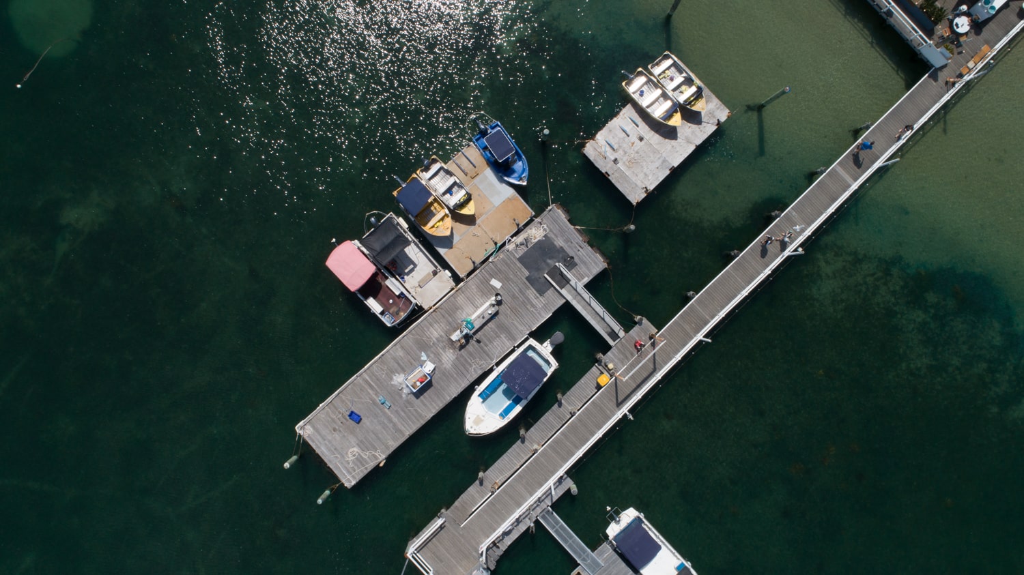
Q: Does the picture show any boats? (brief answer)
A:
Yes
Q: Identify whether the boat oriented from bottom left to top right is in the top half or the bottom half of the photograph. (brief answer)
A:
bottom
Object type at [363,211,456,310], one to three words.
vessel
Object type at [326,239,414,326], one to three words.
boat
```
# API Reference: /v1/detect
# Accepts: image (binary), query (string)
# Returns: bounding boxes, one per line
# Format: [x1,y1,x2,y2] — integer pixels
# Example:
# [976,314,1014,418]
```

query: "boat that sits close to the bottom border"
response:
[602,502,697,575]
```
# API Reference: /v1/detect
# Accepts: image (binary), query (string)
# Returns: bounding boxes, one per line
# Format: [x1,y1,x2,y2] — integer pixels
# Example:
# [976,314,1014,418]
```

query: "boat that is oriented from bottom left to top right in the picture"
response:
[462,327,566,438]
